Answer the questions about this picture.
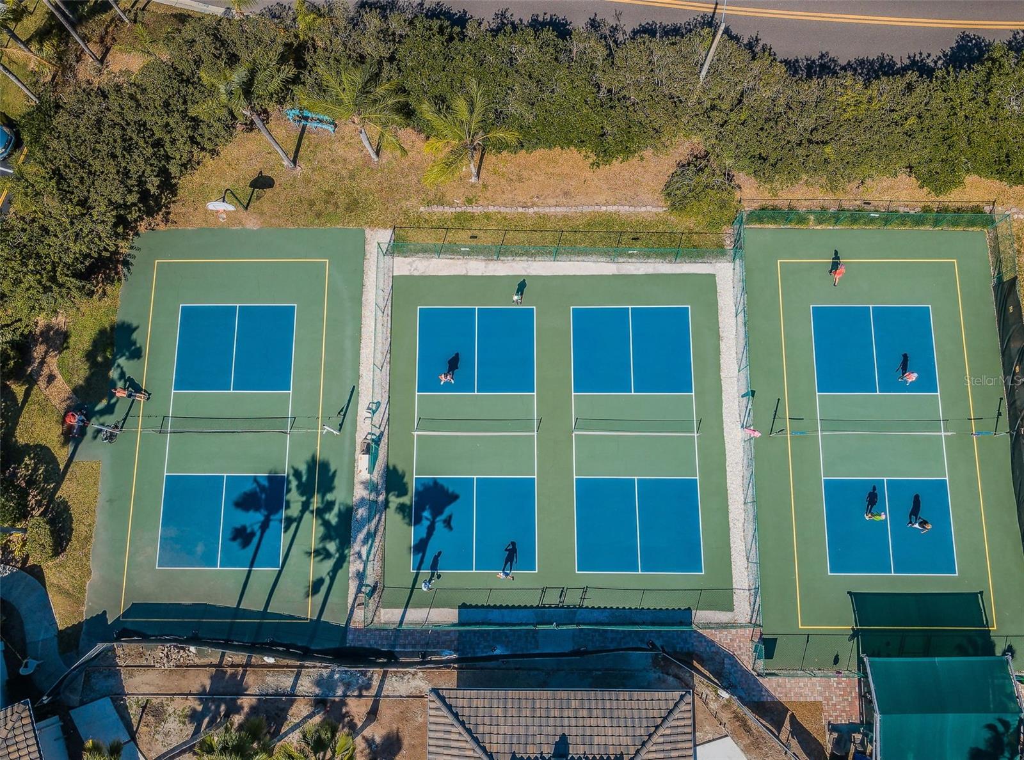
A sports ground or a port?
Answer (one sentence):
What you see here is a sports ground.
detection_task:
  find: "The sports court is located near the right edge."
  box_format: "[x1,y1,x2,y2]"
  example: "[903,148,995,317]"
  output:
[744,228,1024,670]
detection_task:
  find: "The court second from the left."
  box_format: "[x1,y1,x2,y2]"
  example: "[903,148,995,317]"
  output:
[380,275,556,608]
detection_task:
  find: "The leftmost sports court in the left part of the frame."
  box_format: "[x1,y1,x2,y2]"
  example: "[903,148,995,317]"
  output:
[67,228,364,646]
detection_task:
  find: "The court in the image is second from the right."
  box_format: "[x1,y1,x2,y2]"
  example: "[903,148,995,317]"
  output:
[553,274,734,611]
